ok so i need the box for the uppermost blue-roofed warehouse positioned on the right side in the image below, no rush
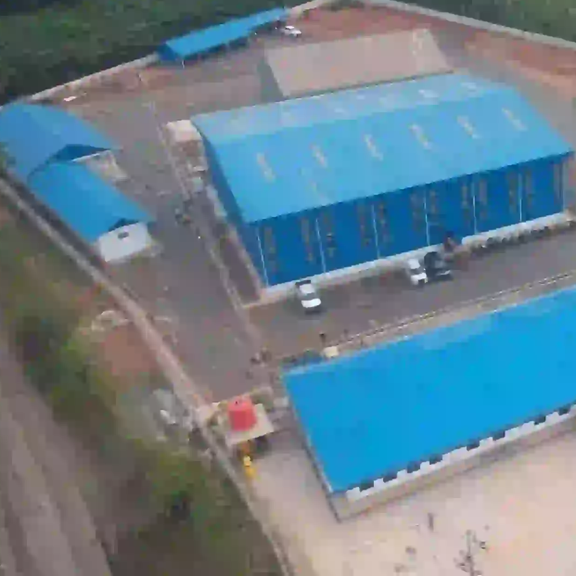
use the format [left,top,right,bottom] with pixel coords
[191,73,576,298]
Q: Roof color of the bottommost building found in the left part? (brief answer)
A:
blue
